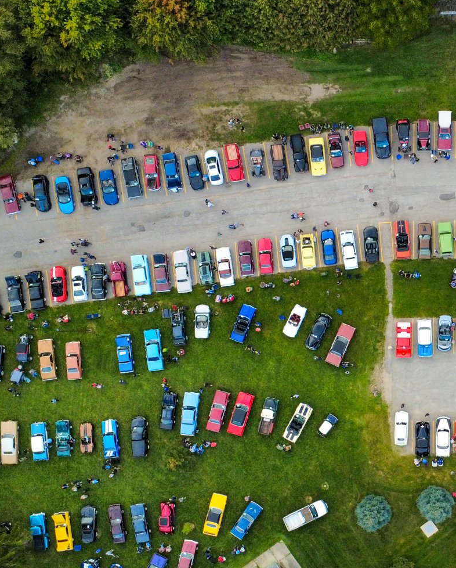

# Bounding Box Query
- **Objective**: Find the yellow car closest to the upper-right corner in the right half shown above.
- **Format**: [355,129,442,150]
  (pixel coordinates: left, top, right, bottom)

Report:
[309,137,326,177]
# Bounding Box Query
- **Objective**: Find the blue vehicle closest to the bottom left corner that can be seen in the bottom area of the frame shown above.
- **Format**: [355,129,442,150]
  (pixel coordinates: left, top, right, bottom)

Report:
[30,512,49,552]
